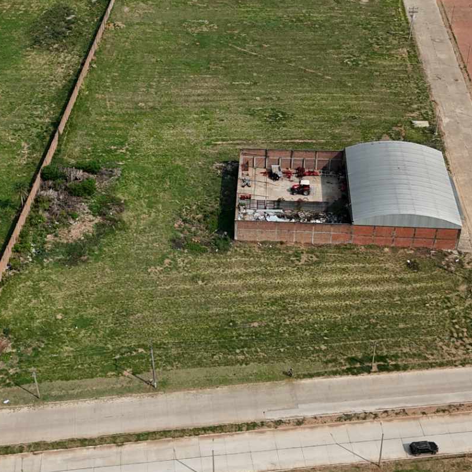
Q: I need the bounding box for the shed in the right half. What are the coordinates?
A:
[342,141,468,249]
